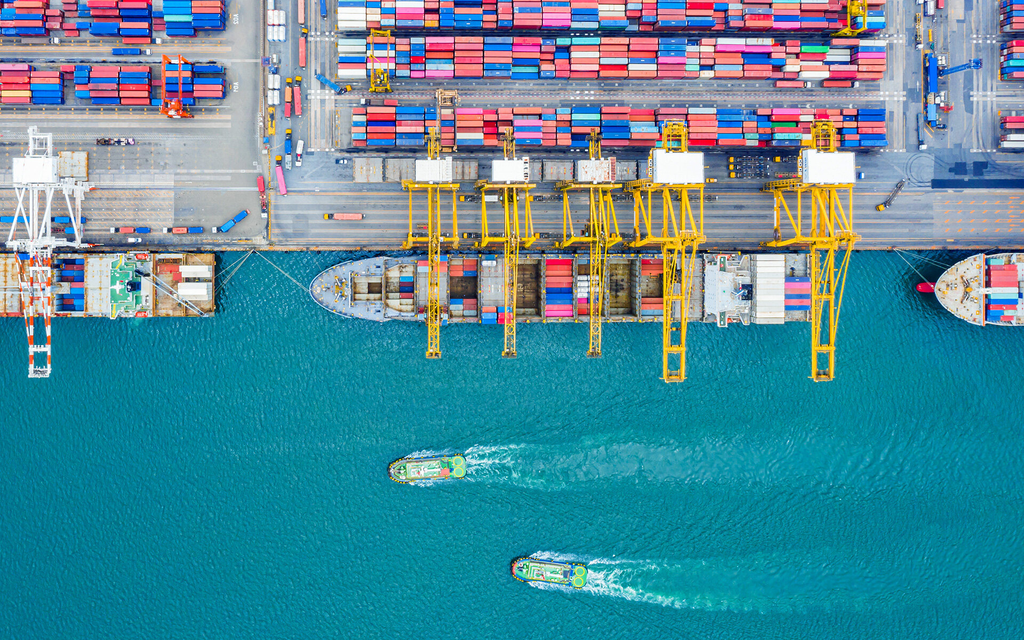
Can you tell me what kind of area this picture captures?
port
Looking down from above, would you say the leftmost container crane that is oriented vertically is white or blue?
white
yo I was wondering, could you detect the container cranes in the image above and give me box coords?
[431,93,460,157]
[471,126,539,359]
[5,125,97,377]
[754,122,863,379]
[550,126,625,359]
[828,0,869,37]
[162,53,196,121]
[398,126,464,360]
[366,24,395,94]
[620,123,705,380]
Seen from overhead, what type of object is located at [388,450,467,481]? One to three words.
boat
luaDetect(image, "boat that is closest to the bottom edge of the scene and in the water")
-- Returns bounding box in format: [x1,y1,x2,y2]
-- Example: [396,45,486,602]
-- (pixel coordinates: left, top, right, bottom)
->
[510,555,588,588]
